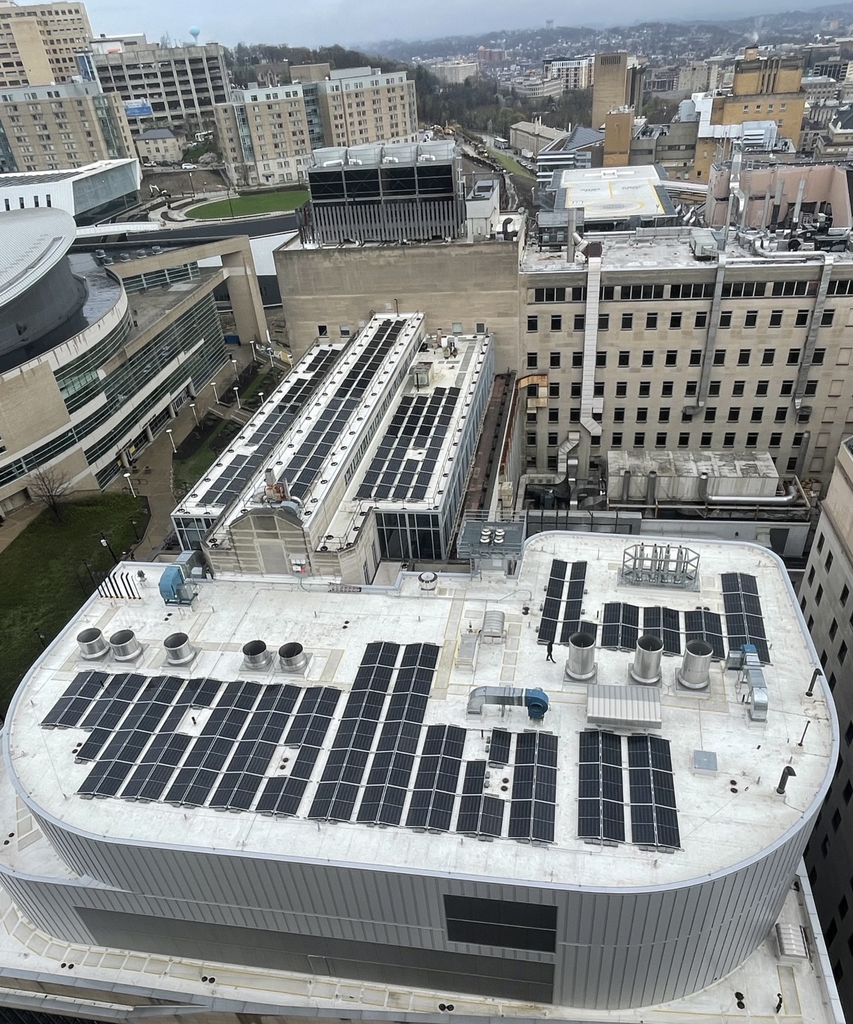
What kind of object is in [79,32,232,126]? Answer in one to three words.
building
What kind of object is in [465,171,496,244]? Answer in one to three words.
shed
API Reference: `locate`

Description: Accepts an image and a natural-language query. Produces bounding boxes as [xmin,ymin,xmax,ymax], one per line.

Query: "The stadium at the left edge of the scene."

[0,208,271,552]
